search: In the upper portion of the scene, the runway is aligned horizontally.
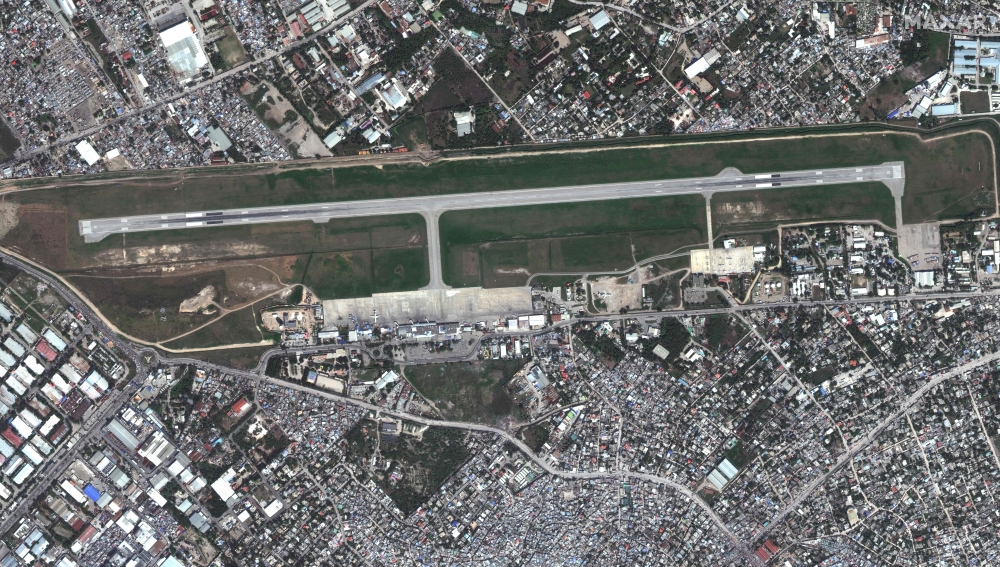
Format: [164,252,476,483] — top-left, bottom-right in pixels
[79,161,904,243]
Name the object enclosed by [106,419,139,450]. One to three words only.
building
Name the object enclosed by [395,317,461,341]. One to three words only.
building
